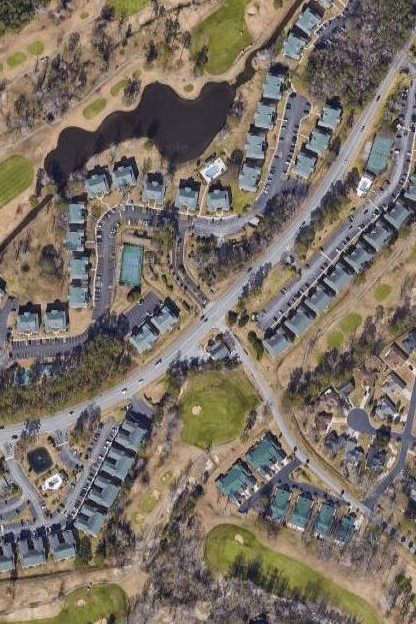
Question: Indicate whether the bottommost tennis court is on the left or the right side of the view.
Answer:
left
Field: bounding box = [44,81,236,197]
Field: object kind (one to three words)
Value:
pond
